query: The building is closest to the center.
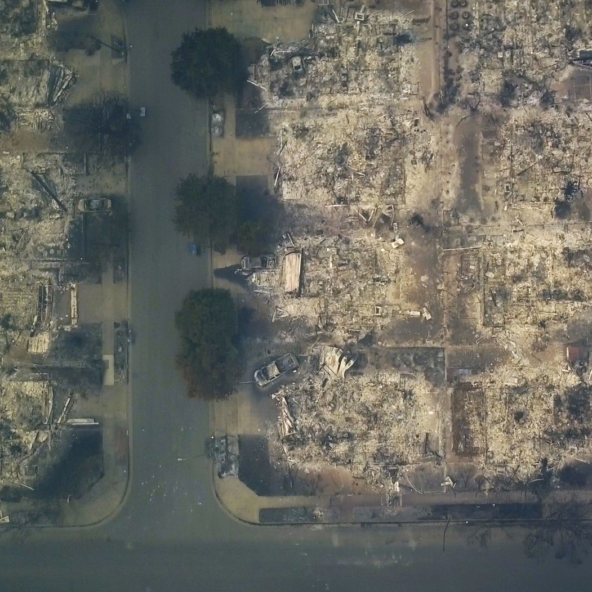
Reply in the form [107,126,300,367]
[247,227,411,338]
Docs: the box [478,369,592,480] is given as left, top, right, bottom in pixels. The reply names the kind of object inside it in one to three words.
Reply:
house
